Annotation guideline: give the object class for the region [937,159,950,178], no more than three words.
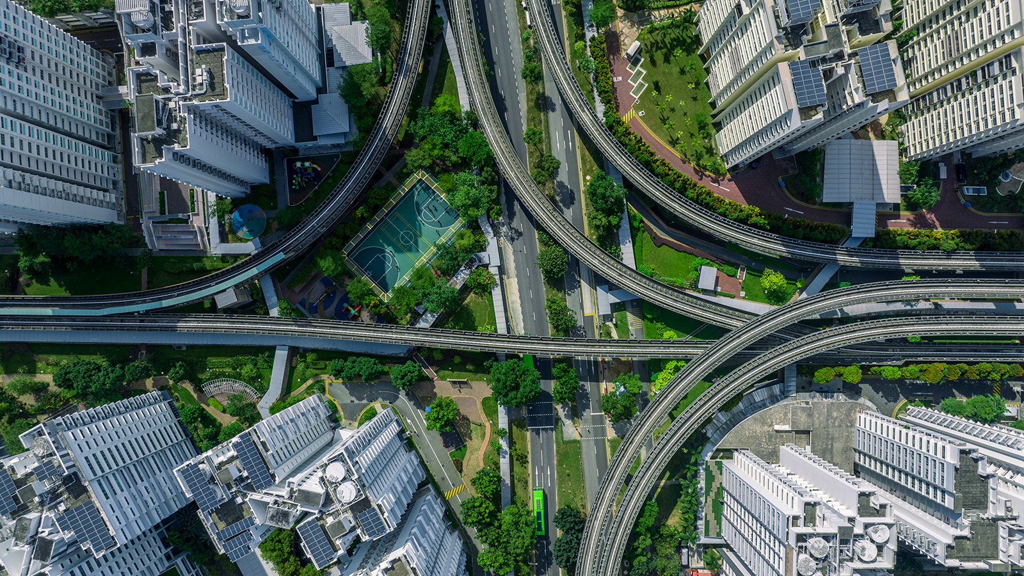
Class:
vehicle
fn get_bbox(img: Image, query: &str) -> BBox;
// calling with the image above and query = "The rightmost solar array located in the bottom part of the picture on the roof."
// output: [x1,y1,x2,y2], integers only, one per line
[357,507,386,537]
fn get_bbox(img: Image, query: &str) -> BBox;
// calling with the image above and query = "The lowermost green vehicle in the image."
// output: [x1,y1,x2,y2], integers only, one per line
[532,484,545,535]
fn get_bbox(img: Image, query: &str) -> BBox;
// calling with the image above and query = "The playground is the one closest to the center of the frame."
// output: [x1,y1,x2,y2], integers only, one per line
[299,277,386,323]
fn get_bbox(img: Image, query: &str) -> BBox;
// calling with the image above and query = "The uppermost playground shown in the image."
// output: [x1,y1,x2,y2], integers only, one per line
[286,153,341,206]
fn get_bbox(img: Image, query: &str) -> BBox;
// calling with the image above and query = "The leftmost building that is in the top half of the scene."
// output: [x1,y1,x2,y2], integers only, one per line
[0,0,125,240]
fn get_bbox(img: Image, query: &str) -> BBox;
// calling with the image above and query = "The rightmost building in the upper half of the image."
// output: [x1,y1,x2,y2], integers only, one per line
[893,0,1024,161]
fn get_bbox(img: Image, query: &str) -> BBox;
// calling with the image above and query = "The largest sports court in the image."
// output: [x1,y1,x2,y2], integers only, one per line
[343,170,465,296]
